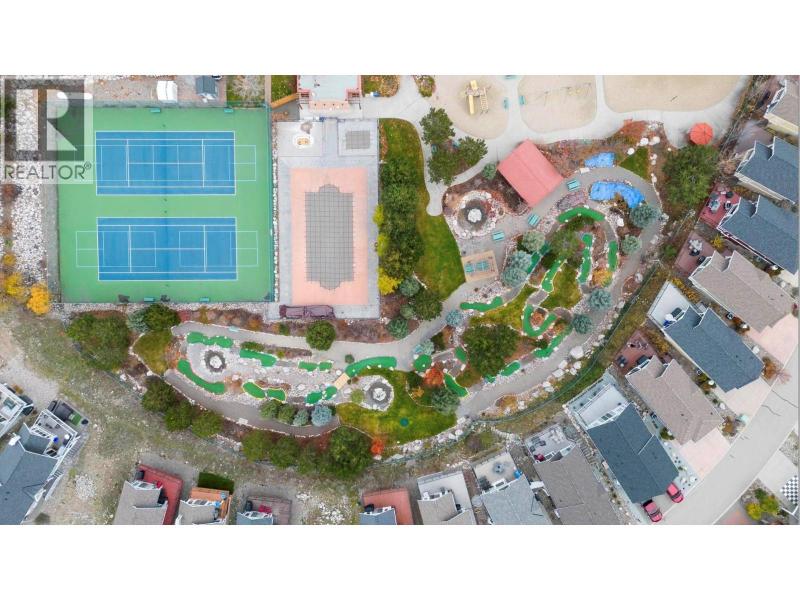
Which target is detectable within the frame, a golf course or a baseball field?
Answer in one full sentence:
There is a golf course in the scene.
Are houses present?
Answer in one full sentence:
Yes, a house appears in the view.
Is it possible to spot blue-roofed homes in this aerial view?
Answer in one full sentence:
Yes, the image includes a blue-roofed home.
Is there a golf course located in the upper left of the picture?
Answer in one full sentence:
No, in the upper left of the picture there is no golf course.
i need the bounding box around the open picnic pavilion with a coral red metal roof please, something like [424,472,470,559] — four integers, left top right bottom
[495,138,564,209]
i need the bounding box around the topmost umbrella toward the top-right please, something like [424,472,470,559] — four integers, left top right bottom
[691,123,713,145]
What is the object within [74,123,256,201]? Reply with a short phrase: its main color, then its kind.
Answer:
blue tennis court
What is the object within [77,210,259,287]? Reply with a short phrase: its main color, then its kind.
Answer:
blue tennis court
